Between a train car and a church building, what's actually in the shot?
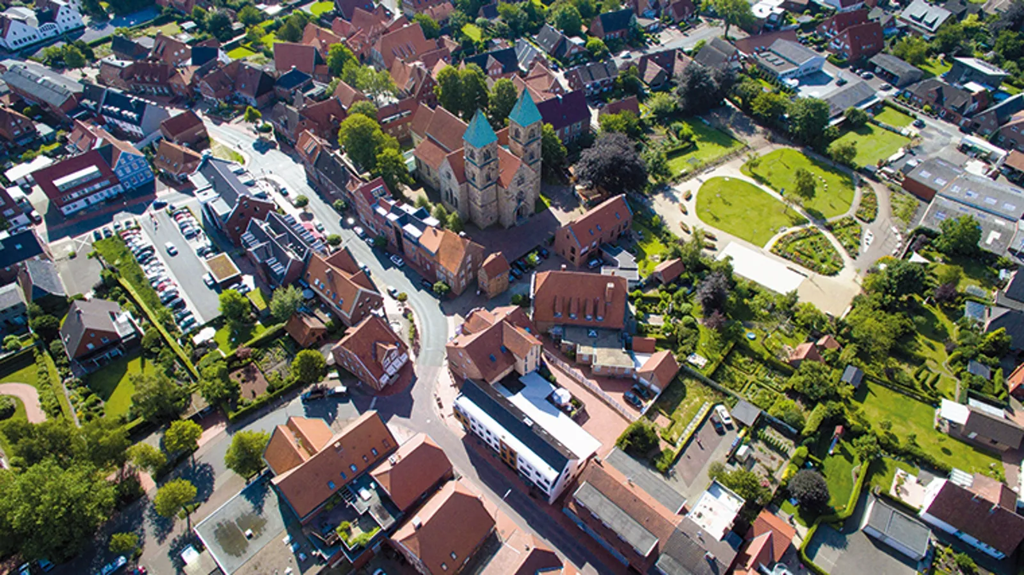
church building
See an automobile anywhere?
Yes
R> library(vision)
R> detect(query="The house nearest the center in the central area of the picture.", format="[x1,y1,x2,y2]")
[474,251,511,295]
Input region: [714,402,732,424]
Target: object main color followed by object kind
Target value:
white car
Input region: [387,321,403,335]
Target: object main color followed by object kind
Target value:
white umbrella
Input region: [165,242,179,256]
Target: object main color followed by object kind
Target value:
white car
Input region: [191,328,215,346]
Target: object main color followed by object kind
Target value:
white umbrella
